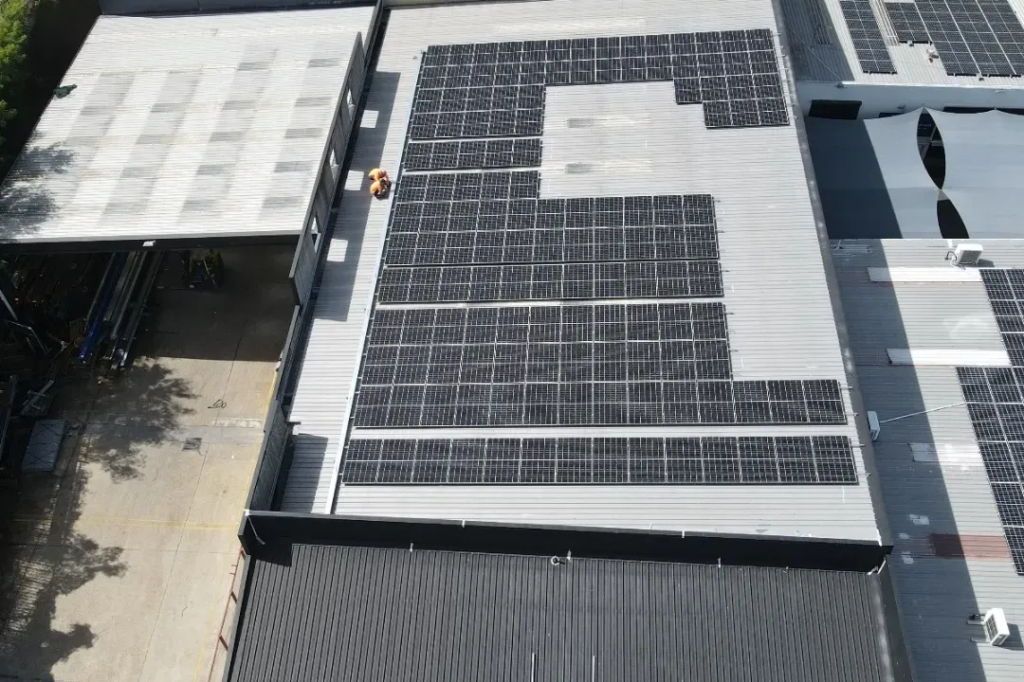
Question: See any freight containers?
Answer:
No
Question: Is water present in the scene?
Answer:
No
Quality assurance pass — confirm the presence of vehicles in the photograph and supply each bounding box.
[180,250,221,308]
